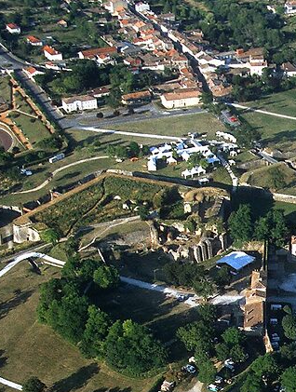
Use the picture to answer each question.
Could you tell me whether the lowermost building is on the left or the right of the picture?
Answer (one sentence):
You can find the lowermost building on the right side of the picture.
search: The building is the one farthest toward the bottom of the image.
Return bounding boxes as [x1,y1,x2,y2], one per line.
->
[237,270,269,354]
